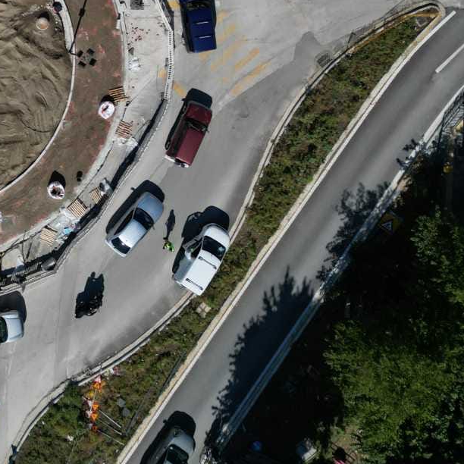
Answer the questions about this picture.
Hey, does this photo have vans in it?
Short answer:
Yes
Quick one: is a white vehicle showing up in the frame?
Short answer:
Yes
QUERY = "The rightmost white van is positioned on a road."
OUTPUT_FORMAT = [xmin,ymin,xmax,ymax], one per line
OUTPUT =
[172,220,230,302]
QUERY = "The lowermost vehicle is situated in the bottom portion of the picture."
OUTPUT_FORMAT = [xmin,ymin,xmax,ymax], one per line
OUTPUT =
[141,411,198,464]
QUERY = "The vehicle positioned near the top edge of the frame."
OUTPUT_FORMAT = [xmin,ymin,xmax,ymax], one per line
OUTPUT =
[178,0,217,53]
